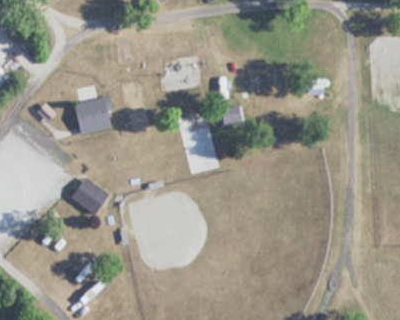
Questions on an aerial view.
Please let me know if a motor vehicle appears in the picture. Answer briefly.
Yes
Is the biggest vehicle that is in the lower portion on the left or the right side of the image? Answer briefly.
left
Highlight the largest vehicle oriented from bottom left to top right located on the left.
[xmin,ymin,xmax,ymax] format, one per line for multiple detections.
[80,279,106,304]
